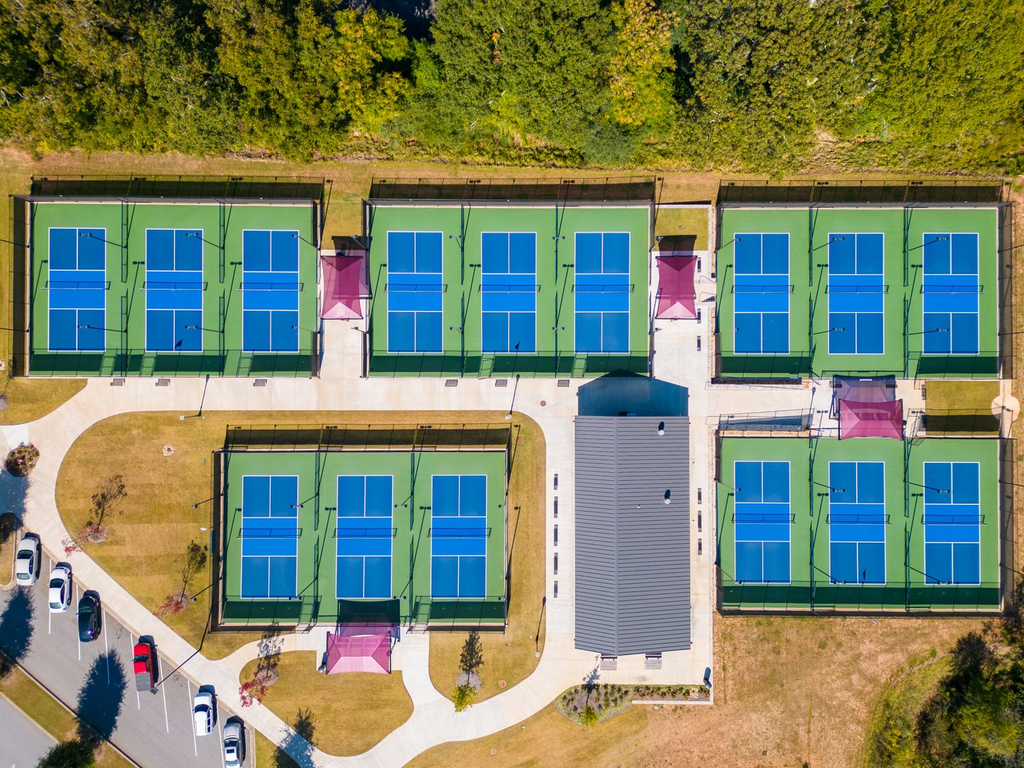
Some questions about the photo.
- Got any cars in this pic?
Yes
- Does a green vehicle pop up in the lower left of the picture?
No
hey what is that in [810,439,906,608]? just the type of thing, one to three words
sports court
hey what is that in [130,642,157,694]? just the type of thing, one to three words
truck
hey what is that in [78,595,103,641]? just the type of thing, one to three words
car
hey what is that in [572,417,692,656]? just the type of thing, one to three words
building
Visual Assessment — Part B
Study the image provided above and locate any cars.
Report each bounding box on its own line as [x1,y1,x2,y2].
[191,691,216,738]
[78,595,103,641]
[221,722,244,768]
[47,567,73,613]
[17,538,43,585]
